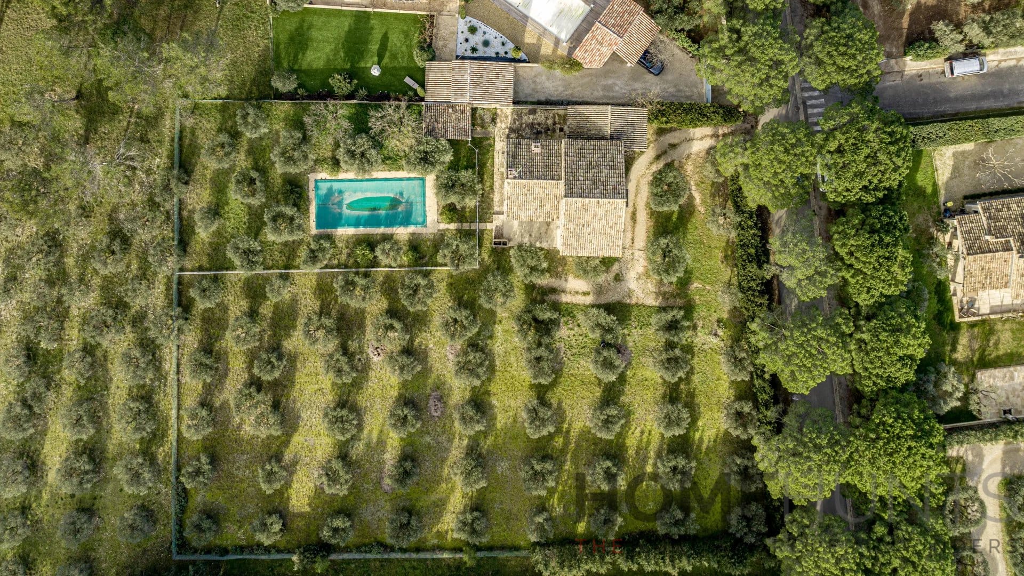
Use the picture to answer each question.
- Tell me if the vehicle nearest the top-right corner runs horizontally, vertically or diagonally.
horizontally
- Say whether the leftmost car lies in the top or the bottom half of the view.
top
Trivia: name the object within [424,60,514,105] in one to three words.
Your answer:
shed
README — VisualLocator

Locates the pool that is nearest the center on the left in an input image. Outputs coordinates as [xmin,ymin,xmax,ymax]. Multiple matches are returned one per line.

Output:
[309,171,437,234]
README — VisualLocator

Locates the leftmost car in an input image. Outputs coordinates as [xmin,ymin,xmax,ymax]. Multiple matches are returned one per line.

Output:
[637,48,667,79]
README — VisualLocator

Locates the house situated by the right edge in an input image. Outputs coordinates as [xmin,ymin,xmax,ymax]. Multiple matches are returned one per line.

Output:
[937,196,1024,323]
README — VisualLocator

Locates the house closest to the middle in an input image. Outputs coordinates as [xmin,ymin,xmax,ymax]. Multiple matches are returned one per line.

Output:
[493,139,631,257]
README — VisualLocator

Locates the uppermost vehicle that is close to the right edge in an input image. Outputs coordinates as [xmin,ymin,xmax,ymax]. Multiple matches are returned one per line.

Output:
[941,55,987,79]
